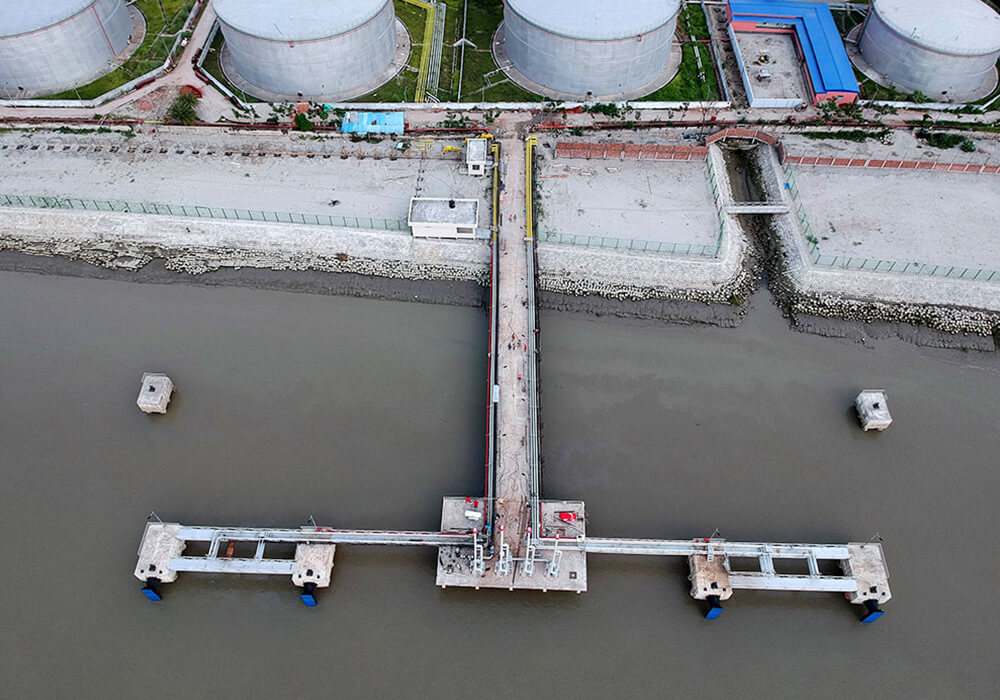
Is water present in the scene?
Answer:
Yes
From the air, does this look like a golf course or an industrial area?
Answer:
industrial area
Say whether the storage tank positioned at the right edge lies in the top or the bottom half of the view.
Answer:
top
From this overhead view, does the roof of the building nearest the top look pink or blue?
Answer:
blue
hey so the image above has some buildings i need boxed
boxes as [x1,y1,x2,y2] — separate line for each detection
[408,197,479,239]
[726,0,857,104]
[342,112,404,138]
[466,137,487,175]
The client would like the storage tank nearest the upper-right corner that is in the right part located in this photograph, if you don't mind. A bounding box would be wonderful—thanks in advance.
[844,0,1000,103]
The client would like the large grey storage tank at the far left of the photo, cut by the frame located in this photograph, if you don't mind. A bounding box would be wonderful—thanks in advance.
[0,0,147,98]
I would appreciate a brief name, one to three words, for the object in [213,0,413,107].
storage tank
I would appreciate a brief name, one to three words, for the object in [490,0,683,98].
storage tank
